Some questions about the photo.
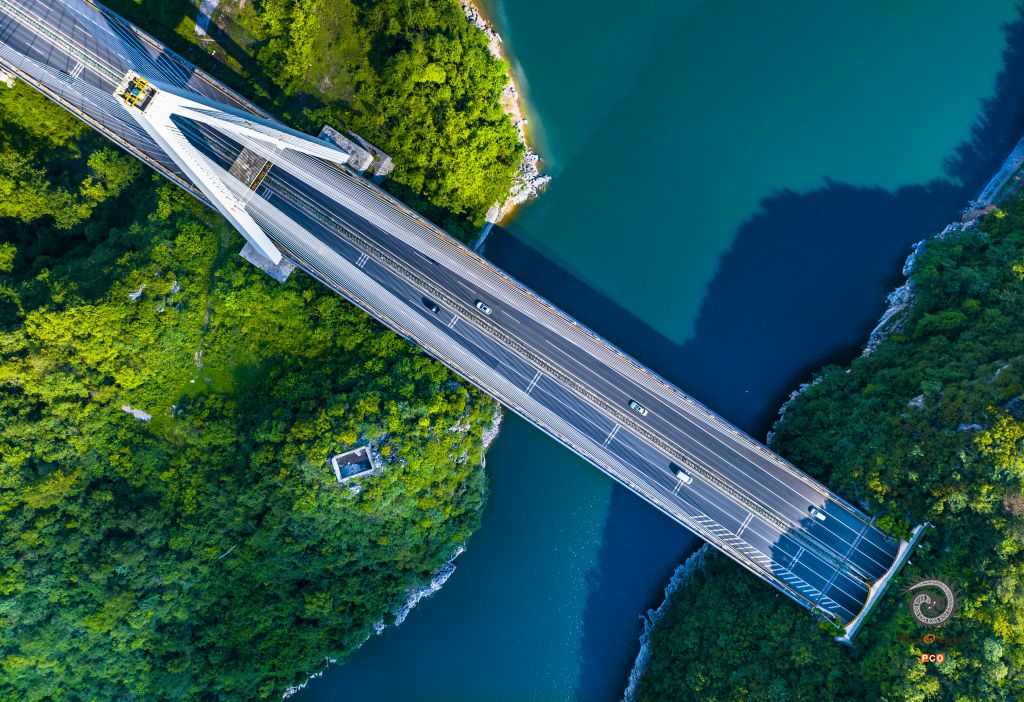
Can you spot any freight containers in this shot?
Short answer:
No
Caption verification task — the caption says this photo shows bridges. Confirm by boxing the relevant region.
[0,0,875,611]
